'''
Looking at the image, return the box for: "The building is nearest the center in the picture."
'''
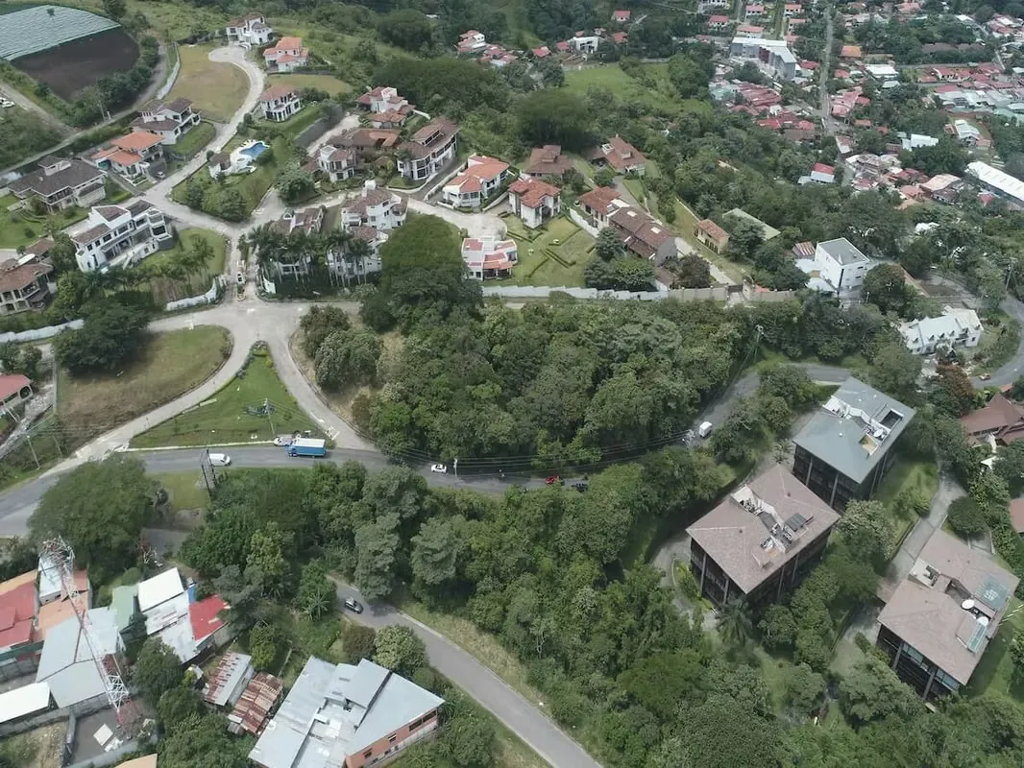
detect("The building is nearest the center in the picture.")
[465,236,516,279]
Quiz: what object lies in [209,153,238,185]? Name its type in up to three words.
building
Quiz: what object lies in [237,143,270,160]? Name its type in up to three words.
swimming pool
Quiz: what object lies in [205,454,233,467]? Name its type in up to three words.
vehicle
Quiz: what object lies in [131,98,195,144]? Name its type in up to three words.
house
